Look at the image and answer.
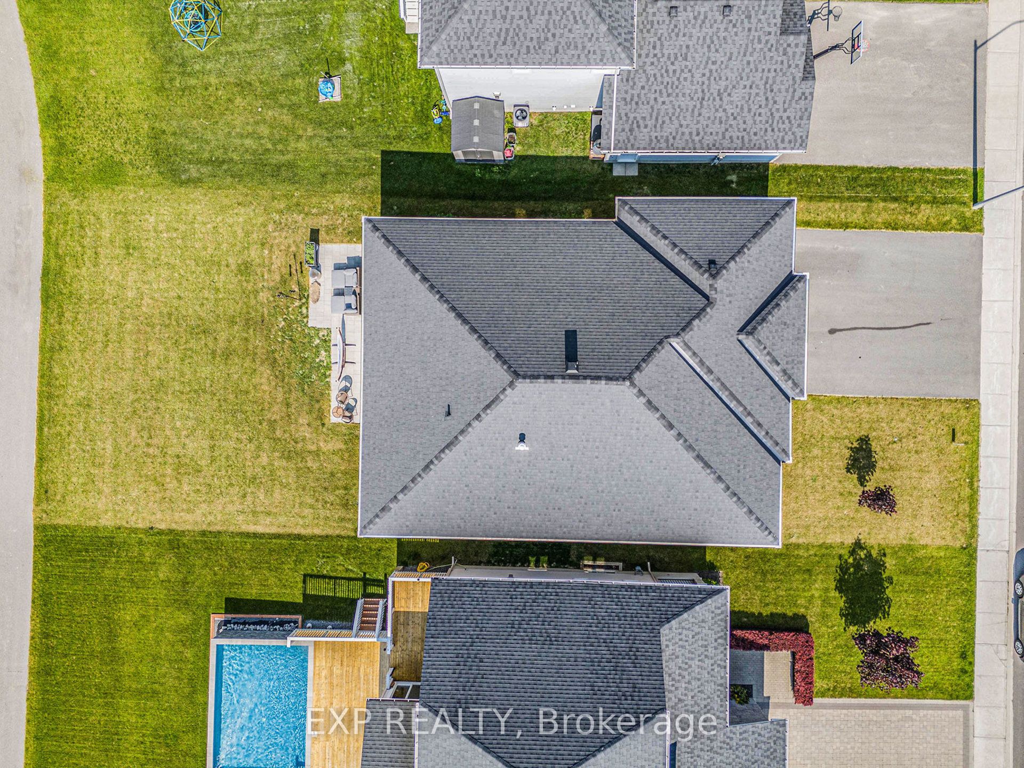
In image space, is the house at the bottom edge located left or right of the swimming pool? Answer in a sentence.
In the image, the house at the bottom edge sits on the right side of the swimming pool.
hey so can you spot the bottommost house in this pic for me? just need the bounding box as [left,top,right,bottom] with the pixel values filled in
[361,552,788,768]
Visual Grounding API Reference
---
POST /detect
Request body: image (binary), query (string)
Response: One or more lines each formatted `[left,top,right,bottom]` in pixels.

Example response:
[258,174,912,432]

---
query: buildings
[358,196,808,546]
[418,0,817,167]
[361,552,788,768]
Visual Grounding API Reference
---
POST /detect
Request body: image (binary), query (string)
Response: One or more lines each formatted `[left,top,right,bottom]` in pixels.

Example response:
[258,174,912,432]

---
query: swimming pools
[208,628,314,768]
